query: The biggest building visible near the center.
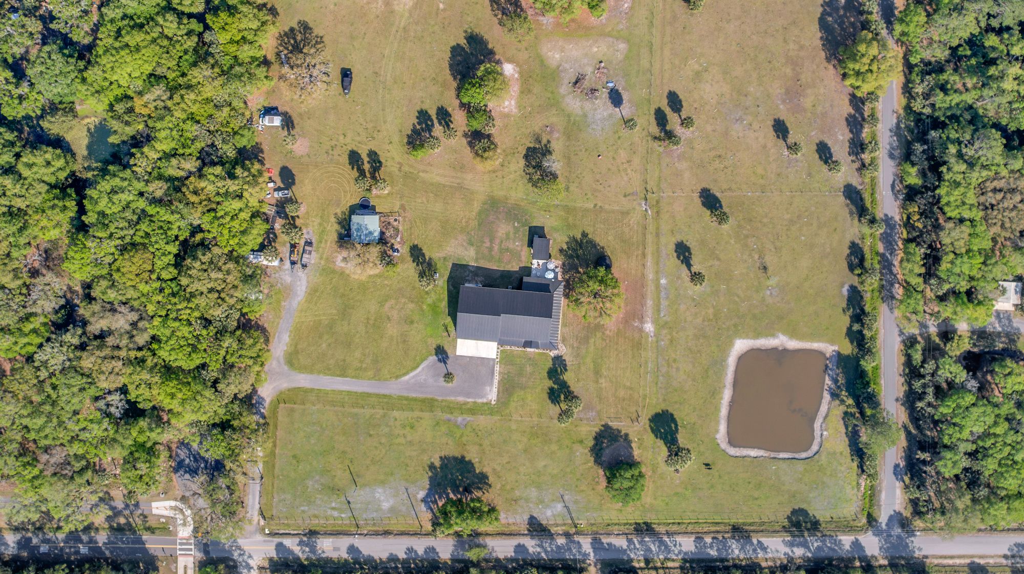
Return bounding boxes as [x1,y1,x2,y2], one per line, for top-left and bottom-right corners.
[456,277,564,351]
